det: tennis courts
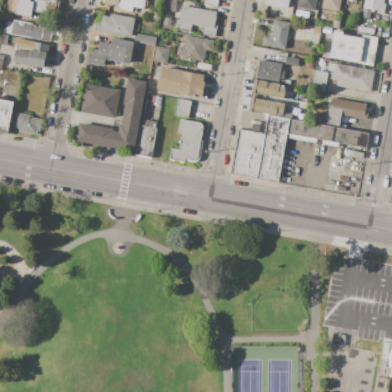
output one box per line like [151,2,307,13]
[265,346,298,392]
[233,346,265,392]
